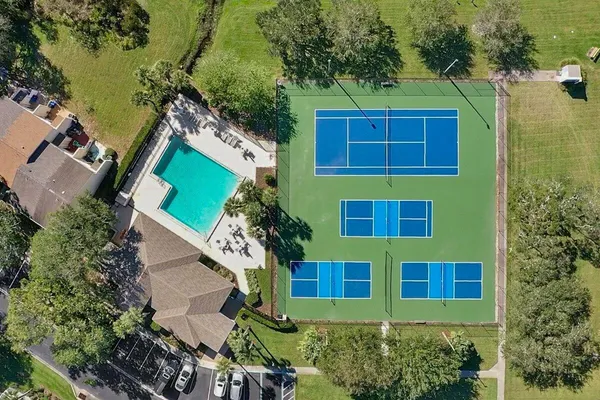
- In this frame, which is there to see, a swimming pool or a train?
swimming pool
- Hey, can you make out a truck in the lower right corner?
No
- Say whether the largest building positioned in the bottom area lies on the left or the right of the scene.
left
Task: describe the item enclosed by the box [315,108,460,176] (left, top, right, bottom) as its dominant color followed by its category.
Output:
blue tennis court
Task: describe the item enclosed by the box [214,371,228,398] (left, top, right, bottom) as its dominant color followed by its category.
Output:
white car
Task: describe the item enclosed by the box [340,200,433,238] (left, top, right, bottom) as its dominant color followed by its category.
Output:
blue sports court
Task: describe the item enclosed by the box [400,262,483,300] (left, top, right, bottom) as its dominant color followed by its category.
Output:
blue sports court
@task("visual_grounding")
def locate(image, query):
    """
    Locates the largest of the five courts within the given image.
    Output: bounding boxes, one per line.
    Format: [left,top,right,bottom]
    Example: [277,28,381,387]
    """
[277,81,499,321]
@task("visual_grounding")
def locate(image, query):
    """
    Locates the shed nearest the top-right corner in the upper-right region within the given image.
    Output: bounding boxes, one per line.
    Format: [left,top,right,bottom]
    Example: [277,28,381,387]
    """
[560,64,582,83]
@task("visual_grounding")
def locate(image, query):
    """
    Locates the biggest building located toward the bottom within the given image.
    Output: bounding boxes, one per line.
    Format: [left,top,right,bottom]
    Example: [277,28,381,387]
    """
[110,213,237,351]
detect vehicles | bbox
[214,371,228,398]
[231,371,244,400]
[173,361,194,393]
[150,356,179,395]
